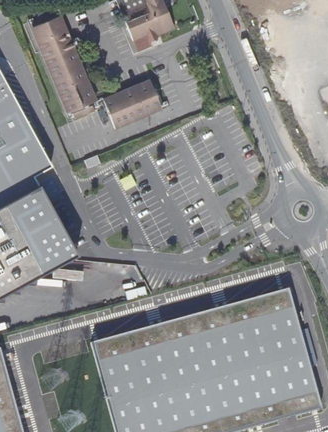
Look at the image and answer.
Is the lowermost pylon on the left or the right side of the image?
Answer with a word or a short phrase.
left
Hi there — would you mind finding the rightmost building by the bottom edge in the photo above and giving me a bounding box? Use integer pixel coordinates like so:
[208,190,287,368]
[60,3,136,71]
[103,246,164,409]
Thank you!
[93,288,322,432]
